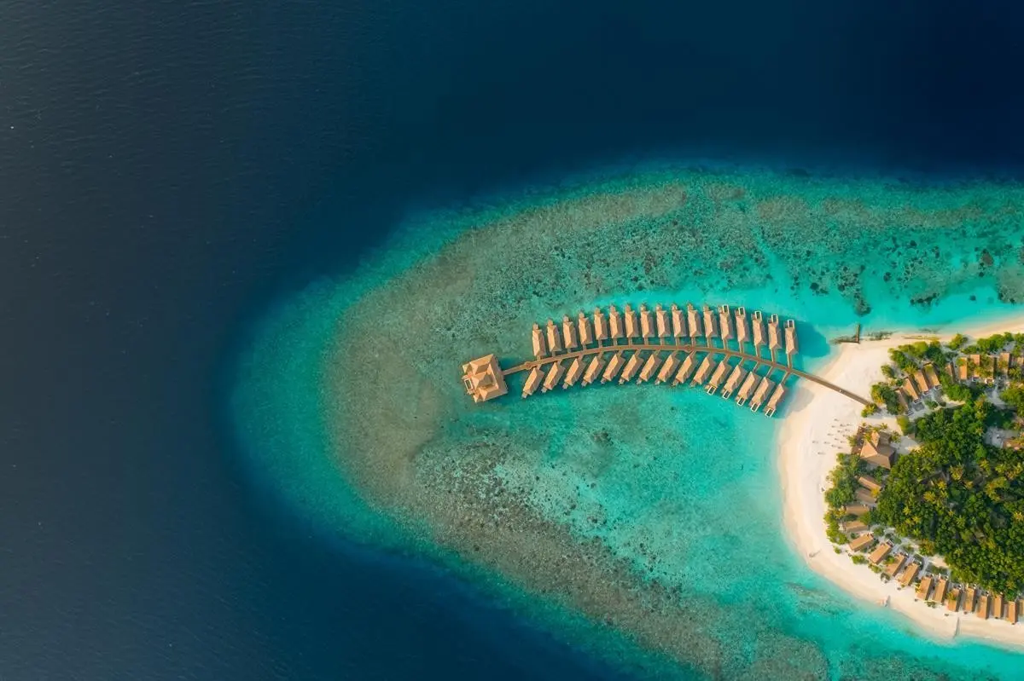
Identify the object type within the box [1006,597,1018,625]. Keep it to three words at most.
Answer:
house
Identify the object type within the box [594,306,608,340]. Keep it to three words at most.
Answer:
house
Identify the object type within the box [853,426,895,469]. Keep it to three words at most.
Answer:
building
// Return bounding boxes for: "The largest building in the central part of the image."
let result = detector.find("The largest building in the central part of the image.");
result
[462,354,508,403]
